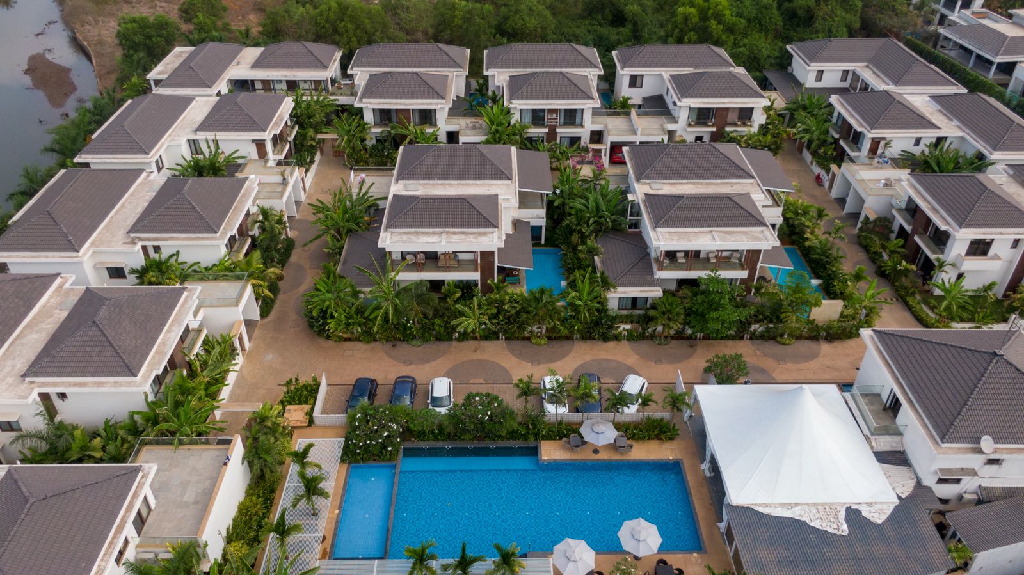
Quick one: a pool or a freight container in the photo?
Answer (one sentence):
The image shows a pool.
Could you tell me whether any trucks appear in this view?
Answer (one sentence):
No, there's no truck here.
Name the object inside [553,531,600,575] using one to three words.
umbrella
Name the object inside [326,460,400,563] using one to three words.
swimming pool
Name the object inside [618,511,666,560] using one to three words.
umbrella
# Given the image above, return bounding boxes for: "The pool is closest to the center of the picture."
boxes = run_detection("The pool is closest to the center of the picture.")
[523,246,571,310]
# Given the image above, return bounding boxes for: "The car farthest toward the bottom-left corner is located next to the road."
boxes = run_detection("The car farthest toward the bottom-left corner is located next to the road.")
[350,373,384,416]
